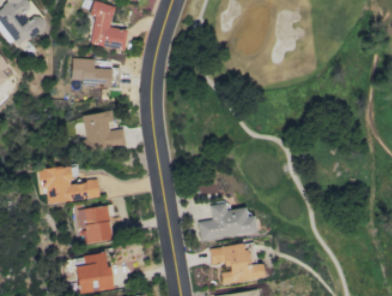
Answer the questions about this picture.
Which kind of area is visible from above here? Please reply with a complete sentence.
What you see here is a golf course.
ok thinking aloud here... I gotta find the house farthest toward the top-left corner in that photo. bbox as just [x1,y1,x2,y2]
[0,0,46,46]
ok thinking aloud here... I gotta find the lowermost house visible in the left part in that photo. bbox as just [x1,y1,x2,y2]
[76,253,114,292]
